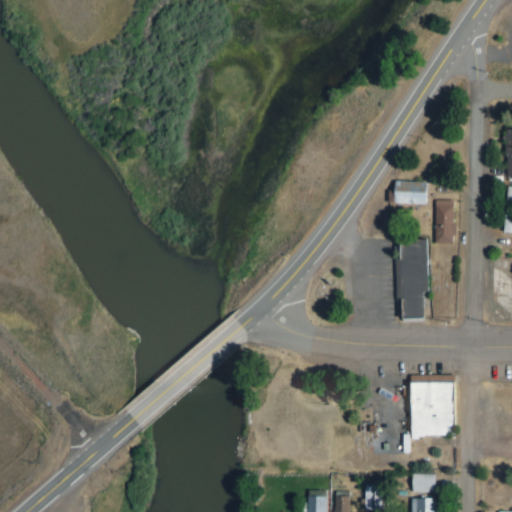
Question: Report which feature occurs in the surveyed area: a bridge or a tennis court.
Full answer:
The one in the frame is a bridge.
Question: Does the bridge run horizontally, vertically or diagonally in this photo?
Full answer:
The bridge has been laid out diagonally relative to the frame.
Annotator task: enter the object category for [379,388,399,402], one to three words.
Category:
vehicle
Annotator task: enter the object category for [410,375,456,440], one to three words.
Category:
building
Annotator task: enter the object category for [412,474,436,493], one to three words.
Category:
building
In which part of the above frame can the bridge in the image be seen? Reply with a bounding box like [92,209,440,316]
[118,310,256,442]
